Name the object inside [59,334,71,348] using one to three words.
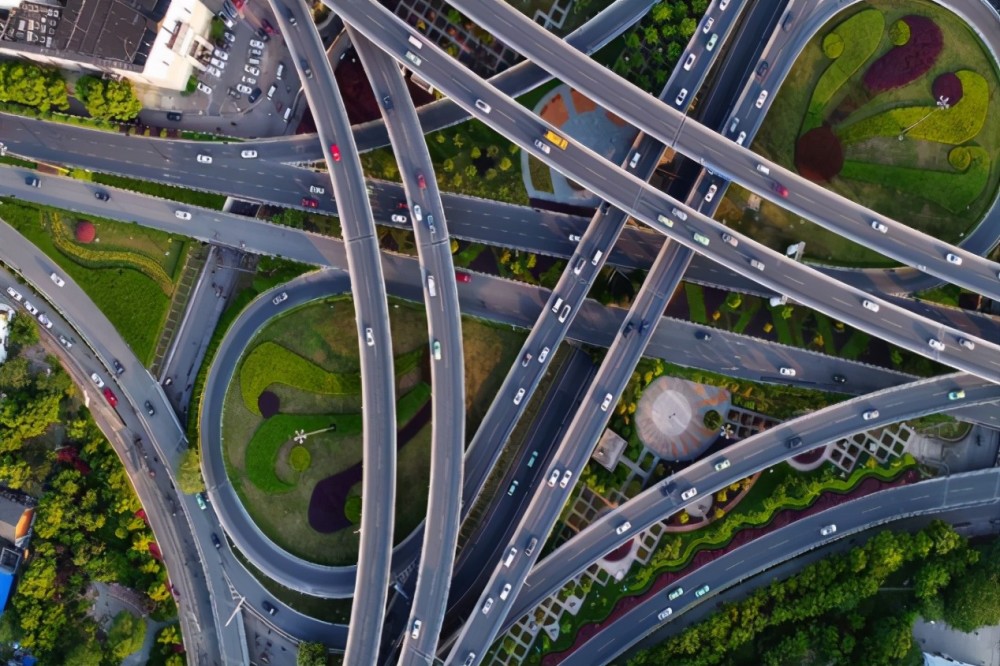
vehicle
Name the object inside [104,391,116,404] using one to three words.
vehicle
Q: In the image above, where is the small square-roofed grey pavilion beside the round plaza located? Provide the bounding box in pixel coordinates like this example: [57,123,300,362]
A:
[592,429,627,472]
